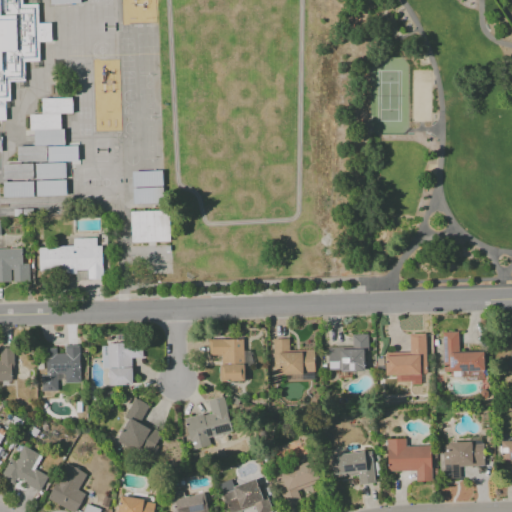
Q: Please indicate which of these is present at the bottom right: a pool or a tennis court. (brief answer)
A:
pool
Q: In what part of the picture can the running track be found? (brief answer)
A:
top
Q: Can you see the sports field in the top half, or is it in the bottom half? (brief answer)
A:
top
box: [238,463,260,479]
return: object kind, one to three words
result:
swimming pool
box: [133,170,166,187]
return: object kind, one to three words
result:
building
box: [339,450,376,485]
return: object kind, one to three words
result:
house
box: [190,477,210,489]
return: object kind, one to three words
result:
swimming pool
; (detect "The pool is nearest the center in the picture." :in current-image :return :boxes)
[284,382,306,402]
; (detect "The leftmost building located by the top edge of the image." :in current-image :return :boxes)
[0,0,52,122]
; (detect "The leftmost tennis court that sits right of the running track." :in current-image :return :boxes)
[372,57,411,134]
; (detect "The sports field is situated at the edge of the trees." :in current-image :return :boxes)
[160,0,304,280]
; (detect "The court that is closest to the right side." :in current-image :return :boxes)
[412,70,434,122]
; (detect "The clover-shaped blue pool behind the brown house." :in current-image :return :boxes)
[455,414,480,436]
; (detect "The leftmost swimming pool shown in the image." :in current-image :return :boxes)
[50,402,72,416]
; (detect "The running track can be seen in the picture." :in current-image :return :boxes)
[168,0,304,225]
